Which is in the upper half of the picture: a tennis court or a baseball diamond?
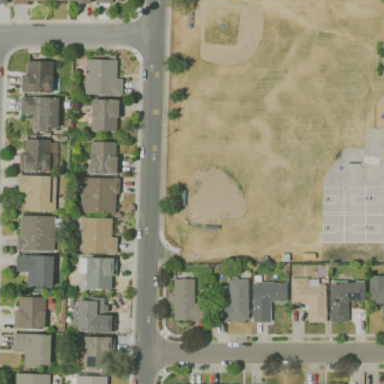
baseball diamond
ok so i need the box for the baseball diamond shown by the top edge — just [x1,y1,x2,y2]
[200,0,263,64]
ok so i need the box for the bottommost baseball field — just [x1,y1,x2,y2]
[184,167,246,224]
